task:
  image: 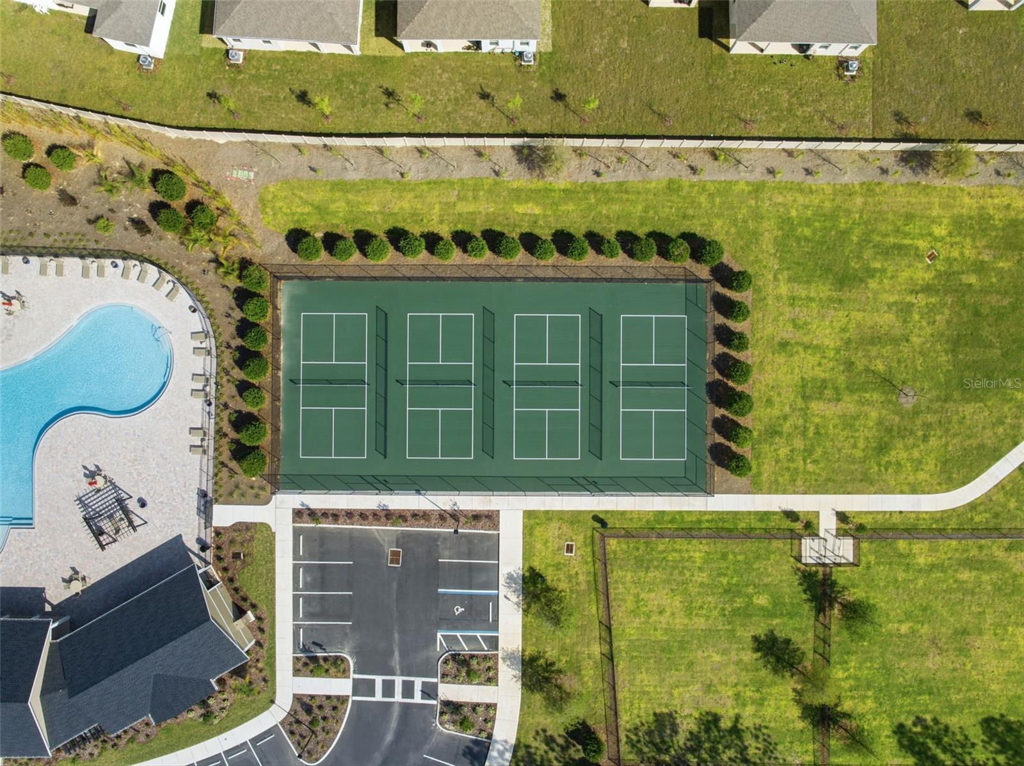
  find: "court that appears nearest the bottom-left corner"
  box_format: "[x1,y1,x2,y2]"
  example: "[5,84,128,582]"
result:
[300,313,367,458]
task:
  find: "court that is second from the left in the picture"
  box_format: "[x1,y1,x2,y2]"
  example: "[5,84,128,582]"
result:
[407,314,473,459]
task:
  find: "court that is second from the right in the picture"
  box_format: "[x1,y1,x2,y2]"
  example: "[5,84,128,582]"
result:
[514,314,580,459]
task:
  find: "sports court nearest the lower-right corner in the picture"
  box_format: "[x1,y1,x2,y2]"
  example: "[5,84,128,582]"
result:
[620,315,686,460]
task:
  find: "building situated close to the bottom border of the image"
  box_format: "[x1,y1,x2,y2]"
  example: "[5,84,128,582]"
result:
[0,562,255,759]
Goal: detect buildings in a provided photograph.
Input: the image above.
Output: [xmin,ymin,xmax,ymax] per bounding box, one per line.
[730,0,878,55]
[396,0,542,52]
[211,0,362,54]
[649,0,699,6]
[14,0,175,58]
[968,0,1024,10]
[0,562,255,759]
